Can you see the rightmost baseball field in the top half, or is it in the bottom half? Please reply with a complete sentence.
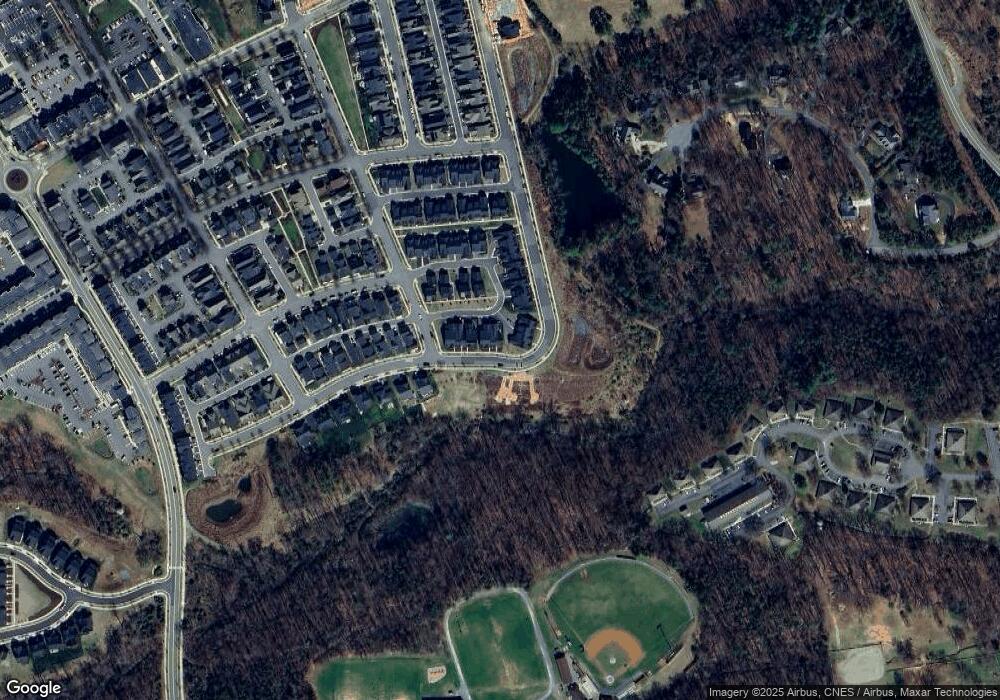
It is in the bottom half that the rightmost baseball field appears.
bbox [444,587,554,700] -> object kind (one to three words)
sports field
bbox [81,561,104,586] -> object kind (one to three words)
house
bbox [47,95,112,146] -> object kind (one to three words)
building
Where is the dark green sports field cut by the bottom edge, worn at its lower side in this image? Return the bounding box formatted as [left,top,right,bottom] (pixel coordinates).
[312,655,423,700]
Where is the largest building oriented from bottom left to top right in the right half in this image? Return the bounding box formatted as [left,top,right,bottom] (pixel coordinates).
[706,482,771,534]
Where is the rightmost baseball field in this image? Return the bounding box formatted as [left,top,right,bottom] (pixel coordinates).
[547,557,695,694]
